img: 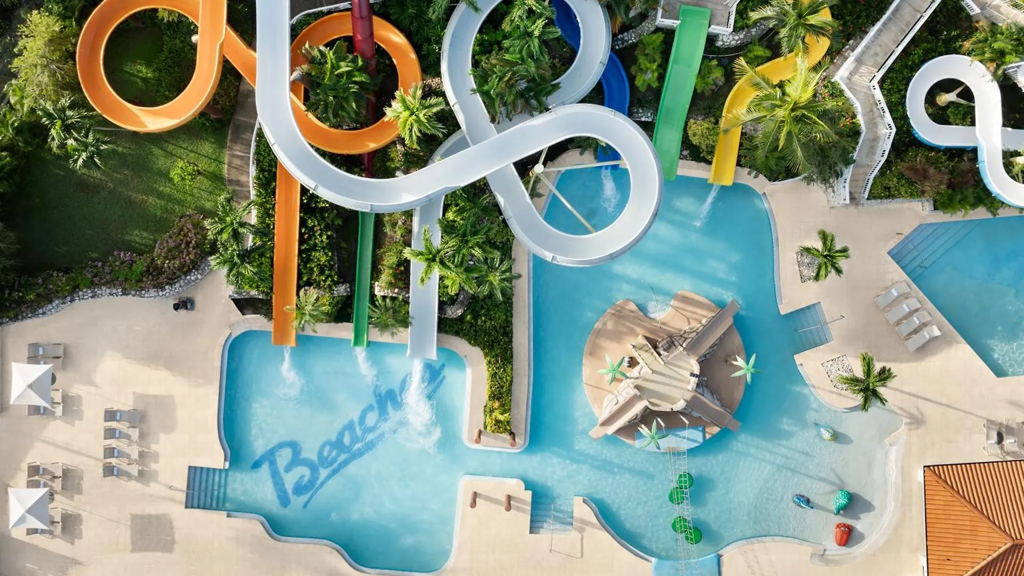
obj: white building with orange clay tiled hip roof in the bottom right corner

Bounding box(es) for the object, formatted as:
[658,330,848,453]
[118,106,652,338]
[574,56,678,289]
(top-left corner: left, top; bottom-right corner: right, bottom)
[910,457,1024,576]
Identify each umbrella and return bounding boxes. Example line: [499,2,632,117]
[10,487,64,529]
[13,363,67,405]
